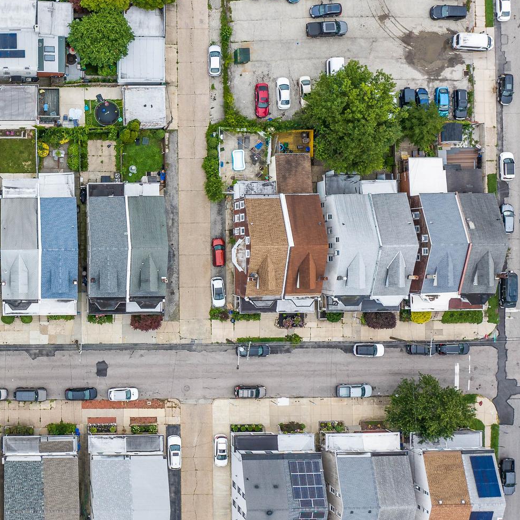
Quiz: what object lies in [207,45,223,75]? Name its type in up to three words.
car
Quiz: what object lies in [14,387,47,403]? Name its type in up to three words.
car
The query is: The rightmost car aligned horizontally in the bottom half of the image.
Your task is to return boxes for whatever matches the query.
[436,342,469,358]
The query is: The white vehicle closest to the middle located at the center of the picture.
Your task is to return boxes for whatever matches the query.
[211,277,227,307]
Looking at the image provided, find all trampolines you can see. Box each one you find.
[94,99,121,125]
